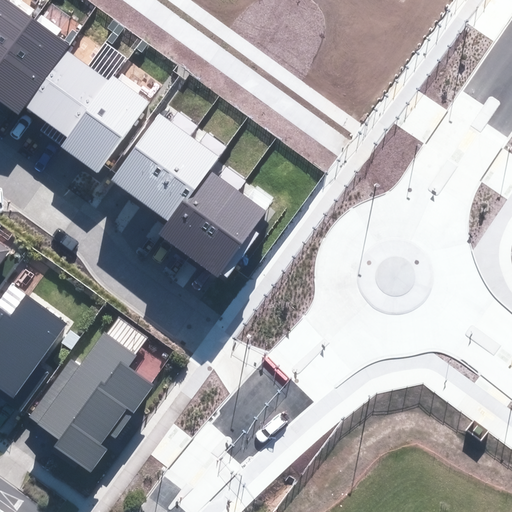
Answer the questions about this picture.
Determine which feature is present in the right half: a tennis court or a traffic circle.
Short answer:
traffic circle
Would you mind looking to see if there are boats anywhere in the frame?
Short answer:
No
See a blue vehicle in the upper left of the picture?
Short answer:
Yes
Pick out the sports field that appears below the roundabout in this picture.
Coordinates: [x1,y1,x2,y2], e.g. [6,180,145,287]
[321,442,512,512]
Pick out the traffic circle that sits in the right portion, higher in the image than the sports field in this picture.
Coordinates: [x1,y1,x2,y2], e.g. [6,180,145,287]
[358,239,433,315]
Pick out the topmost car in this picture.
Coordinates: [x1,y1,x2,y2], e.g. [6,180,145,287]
[6,112,32,142]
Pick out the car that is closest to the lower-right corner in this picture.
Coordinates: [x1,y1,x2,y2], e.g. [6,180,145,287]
[254,410,292,446]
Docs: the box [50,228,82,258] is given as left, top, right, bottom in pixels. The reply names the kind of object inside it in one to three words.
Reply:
car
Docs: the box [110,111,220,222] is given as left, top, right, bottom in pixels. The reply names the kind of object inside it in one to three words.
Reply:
house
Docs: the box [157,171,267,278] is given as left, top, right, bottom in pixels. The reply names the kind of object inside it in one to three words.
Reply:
house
